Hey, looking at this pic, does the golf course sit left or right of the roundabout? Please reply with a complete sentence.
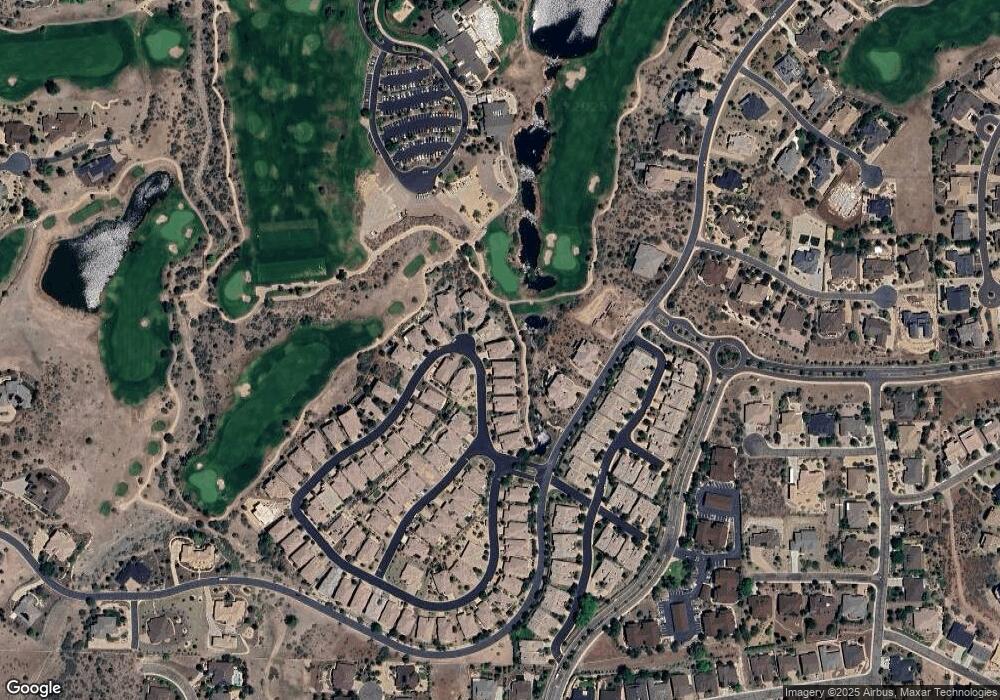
In the image, the golf course sits on the left side of the roundabout.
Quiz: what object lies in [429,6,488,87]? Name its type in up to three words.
building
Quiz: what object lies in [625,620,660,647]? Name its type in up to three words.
building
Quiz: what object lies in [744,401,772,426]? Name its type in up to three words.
house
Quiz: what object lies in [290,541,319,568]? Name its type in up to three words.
house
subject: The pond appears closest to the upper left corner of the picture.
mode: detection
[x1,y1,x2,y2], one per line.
[41,171,171,310]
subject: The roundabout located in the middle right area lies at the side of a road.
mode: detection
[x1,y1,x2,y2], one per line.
[708,338,749,377]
